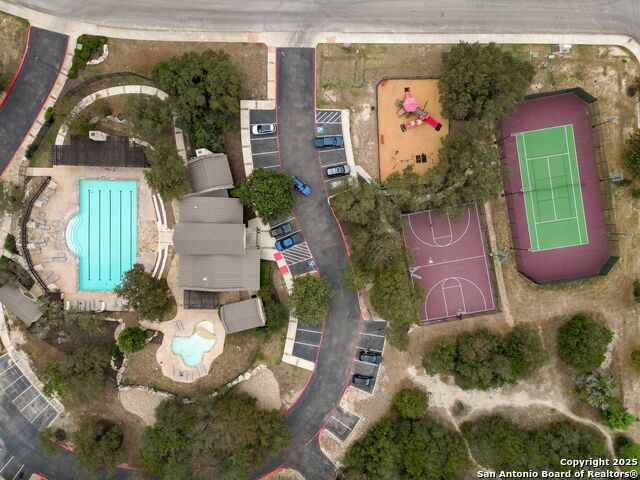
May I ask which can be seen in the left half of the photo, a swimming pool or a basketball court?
swimming pool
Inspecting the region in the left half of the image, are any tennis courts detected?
No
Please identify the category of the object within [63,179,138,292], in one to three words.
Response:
swimming pool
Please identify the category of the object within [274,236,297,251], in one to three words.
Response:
car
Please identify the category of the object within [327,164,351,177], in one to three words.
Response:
vehicle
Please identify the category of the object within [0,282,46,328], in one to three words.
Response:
building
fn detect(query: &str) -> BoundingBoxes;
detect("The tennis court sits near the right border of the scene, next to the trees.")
[499,92,611,283]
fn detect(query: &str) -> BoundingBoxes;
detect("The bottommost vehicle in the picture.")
[352,374,375,387]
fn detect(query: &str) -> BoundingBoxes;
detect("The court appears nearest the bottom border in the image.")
[399,202,499,324]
